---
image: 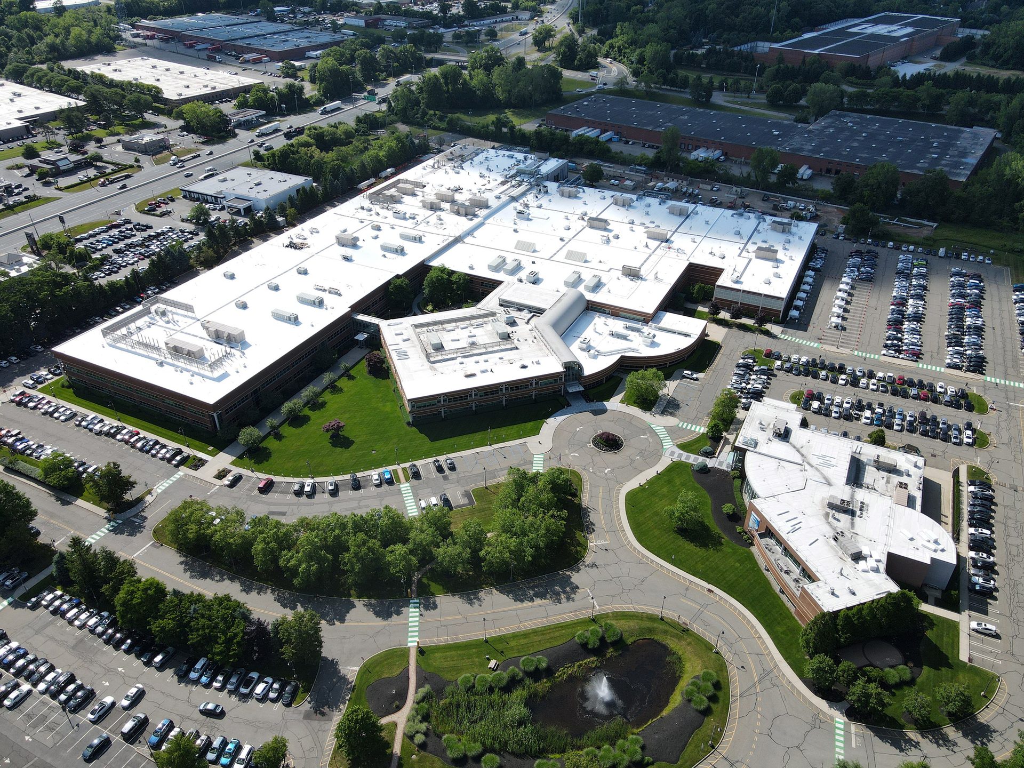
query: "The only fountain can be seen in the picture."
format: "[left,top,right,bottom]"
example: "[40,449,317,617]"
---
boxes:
[574,683,631,724]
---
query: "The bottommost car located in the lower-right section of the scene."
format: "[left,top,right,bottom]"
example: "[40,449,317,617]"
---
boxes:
[969,621,999,637]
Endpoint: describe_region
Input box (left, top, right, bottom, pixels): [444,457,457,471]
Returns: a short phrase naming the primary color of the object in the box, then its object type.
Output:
gray vehicle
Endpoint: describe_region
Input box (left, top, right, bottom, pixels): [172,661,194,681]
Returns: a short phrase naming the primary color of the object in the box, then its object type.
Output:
black car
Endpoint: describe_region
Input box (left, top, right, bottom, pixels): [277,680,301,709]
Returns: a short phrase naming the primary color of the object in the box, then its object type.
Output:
black car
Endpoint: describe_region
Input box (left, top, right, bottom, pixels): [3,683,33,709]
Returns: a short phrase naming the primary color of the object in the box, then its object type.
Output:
white car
